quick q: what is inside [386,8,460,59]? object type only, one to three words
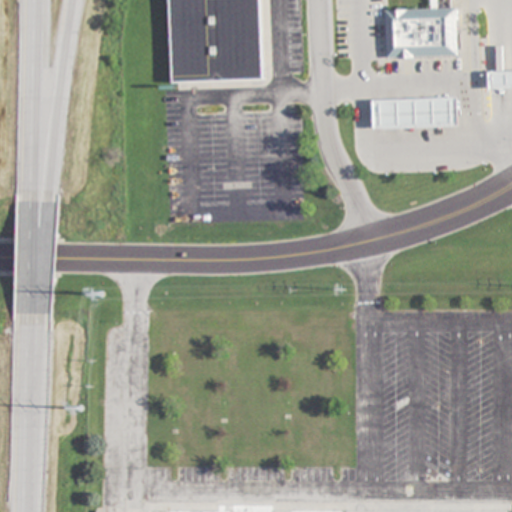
building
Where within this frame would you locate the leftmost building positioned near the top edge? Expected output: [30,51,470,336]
[168,0,266,83]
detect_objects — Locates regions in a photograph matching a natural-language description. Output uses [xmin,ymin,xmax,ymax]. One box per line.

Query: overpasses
[12,190,60,326]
